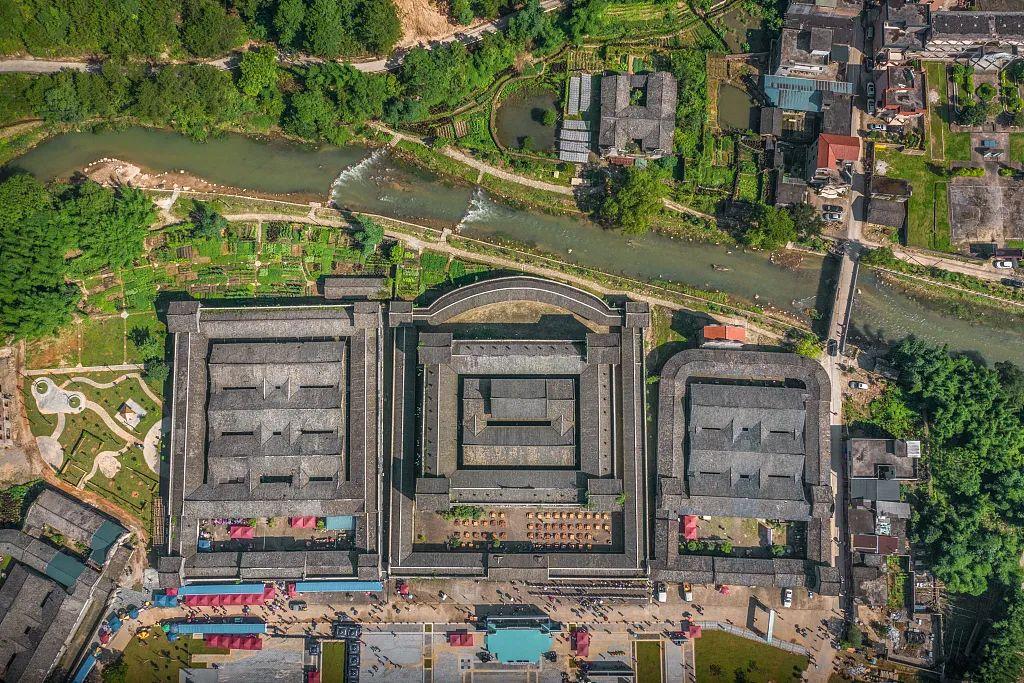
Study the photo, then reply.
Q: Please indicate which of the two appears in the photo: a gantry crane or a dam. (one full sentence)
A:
The one in the frame is a dam.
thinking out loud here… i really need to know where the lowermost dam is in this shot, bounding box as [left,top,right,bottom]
[455,186,495,237]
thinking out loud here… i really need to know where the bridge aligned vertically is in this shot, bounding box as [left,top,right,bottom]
[829,246,860,347]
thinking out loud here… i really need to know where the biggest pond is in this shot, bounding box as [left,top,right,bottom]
[496,91,557,151]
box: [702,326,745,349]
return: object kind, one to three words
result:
house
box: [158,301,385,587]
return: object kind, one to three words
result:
building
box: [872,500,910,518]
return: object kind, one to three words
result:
shed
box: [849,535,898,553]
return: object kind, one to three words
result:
house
